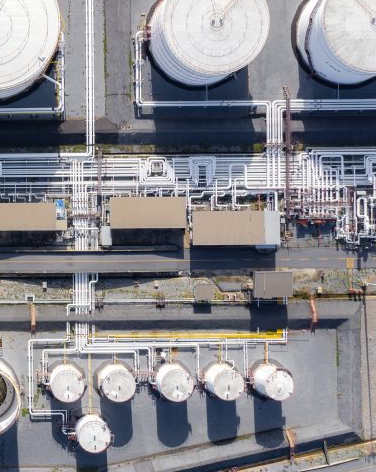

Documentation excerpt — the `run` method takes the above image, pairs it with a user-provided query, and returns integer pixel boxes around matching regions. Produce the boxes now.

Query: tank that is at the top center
[144,0,272,91]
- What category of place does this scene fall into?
industrial area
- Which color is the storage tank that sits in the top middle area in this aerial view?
white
